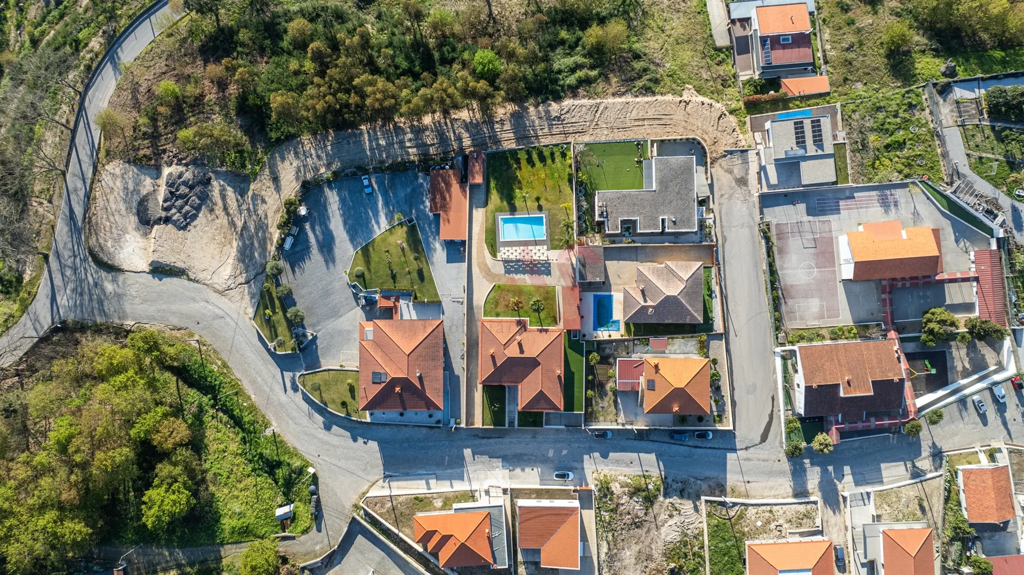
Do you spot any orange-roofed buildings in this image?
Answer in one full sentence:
Yes, there is an orange-roofed building in the image.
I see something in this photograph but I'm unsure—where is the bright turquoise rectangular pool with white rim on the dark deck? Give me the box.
[498,213,547,243]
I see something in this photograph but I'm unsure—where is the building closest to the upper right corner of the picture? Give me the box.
[976,194,1010,226]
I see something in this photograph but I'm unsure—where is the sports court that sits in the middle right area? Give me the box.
[775,220,840,322]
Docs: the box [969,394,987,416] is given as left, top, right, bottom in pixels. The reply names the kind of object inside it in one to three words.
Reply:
car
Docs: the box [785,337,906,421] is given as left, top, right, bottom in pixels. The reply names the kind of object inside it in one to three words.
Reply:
building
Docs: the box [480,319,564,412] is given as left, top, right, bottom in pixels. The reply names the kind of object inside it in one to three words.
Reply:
house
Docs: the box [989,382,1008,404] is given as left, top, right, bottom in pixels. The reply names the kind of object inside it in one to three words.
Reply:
car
